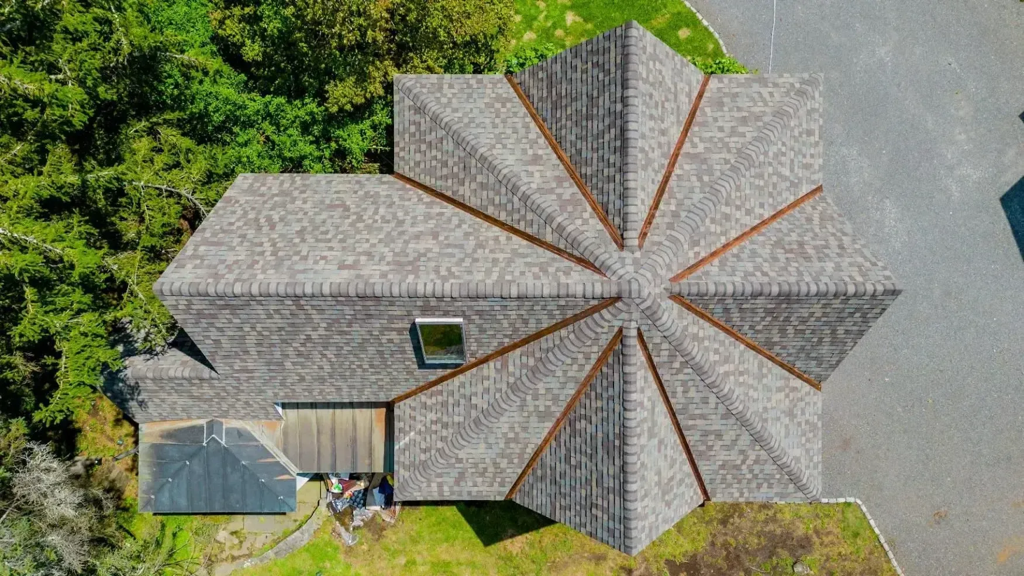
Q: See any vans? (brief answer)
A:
No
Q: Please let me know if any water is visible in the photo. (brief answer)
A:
No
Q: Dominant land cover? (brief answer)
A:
buildings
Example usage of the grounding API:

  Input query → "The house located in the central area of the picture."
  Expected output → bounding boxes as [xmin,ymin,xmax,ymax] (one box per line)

[94,20,903,556]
